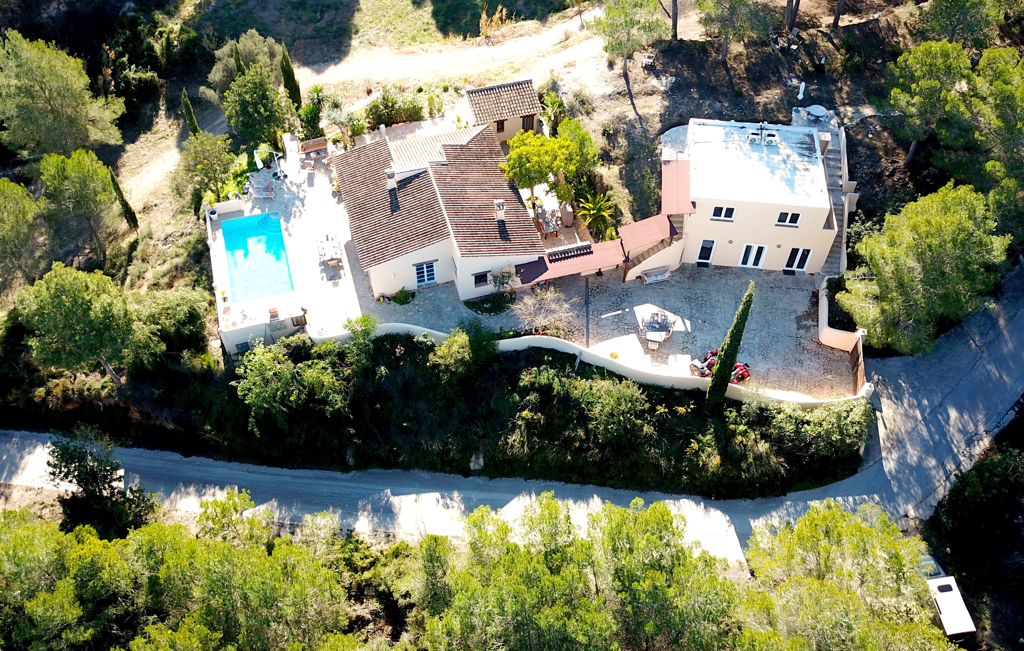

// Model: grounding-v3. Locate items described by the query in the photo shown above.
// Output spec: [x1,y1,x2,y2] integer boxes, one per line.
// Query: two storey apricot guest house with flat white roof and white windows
[682,118,837,275]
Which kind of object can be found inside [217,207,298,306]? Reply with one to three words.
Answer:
swimming pool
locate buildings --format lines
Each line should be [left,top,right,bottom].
[682,118,837,275]
[333,123,547,301]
